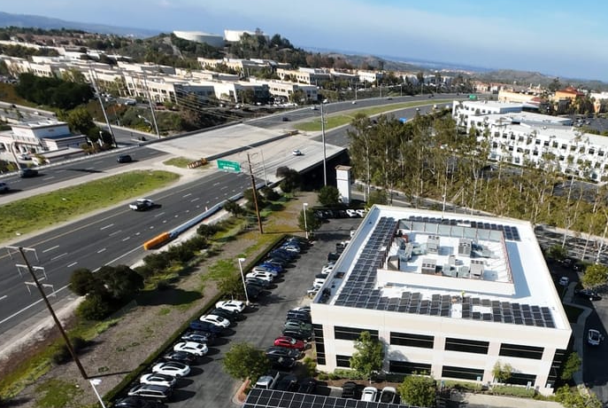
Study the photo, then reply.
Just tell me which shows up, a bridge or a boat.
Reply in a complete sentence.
The one in the frame is a bridge.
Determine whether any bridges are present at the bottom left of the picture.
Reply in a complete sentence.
No, there is no bridge at the bottom left of the picture.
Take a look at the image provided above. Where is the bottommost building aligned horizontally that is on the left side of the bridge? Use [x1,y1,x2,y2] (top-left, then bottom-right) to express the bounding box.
[0,126,82,162]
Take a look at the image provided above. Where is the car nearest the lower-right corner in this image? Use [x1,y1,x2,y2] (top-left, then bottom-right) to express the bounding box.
[587,330,605,345]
